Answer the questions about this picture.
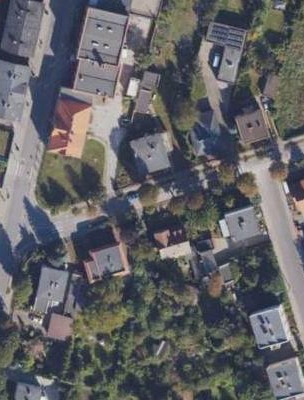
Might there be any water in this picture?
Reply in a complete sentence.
No, the picture contains no water.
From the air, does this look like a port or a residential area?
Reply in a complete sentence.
This looks like a residential area.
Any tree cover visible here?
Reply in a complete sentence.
Yes, some tree cover is visible.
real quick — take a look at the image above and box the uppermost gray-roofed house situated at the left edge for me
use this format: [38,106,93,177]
[1,0,46,59]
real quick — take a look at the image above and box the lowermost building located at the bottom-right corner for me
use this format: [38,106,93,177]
[266,357,304,400]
